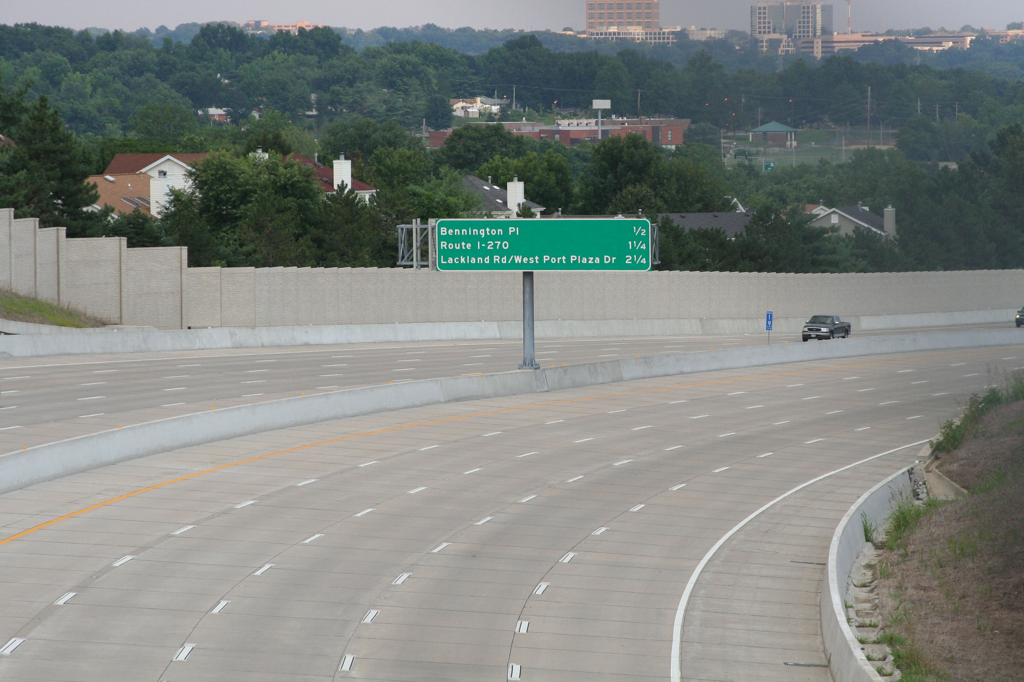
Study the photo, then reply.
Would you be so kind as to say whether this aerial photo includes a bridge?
No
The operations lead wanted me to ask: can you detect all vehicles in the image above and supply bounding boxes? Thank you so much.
[797,313,851,342]
[1016,311,1024,327]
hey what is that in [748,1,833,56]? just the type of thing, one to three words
building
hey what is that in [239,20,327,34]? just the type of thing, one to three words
building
